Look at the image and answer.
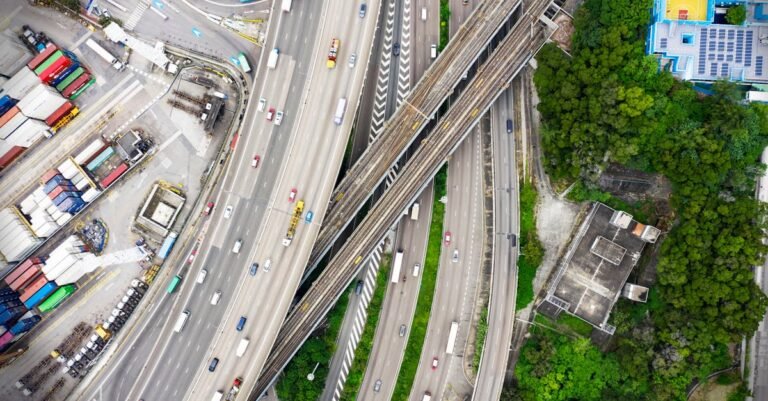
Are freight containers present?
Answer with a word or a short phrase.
Yes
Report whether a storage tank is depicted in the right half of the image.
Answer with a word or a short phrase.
No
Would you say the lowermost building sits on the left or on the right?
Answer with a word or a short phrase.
right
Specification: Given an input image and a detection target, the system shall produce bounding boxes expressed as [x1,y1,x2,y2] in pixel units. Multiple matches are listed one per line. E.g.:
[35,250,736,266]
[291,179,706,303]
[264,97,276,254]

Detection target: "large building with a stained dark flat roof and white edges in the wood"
[536,202,662,346]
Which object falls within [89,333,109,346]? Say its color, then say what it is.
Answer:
white vehicle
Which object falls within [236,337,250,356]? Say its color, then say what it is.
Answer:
white vehicle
